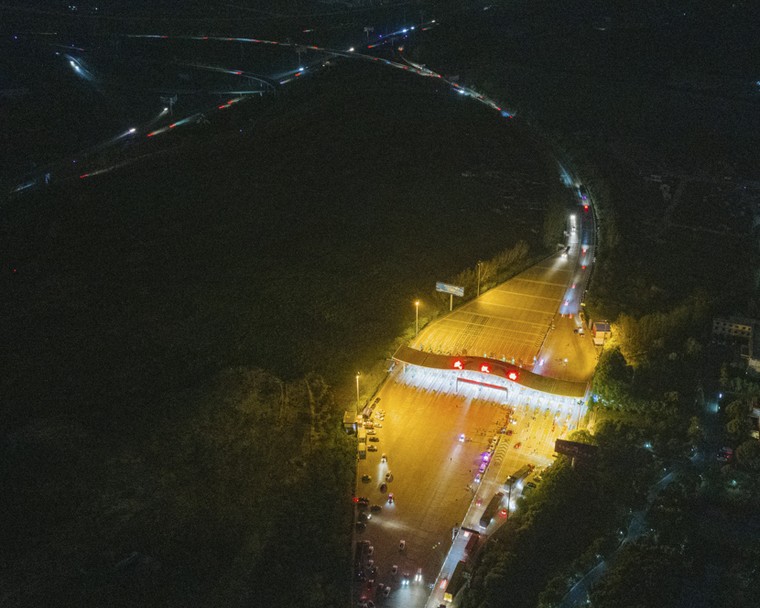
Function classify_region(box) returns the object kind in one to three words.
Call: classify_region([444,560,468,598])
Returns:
truck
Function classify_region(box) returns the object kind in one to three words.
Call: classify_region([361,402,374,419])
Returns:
vehicle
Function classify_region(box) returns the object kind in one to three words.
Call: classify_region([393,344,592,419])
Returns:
toll station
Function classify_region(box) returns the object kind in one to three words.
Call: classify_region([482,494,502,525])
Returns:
vehicle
